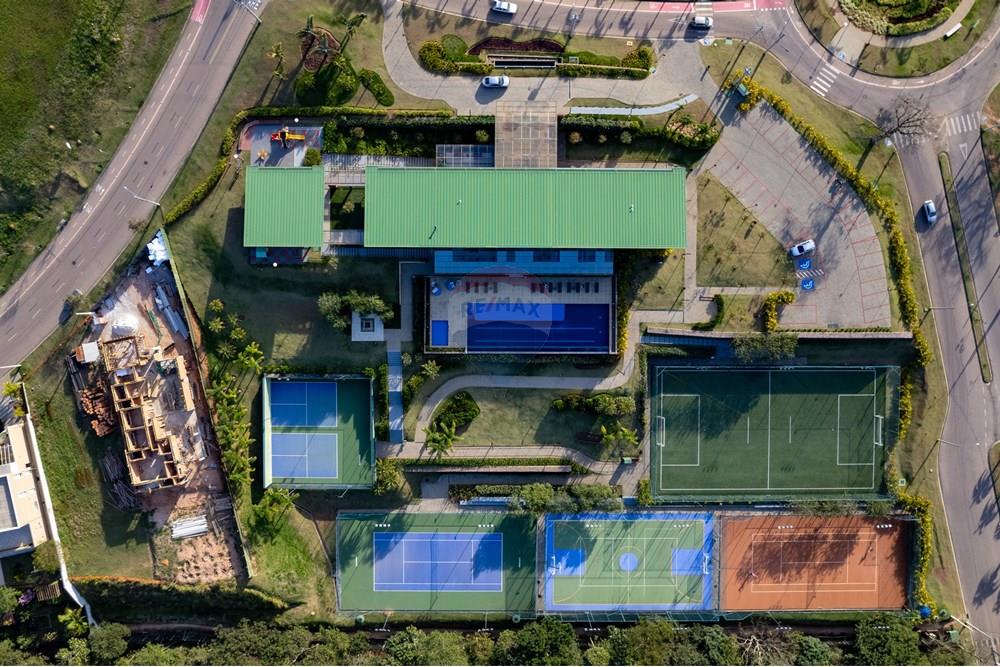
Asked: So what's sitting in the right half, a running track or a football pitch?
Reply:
football pitch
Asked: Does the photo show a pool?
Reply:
Yes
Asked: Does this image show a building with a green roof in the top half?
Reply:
Yes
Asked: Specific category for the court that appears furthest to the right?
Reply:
tennis court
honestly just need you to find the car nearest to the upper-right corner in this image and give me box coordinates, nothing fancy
[924,197,941,224]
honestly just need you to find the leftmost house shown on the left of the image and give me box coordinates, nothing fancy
[0,422,57,559]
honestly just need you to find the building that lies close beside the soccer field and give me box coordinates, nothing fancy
[364,166,688,275]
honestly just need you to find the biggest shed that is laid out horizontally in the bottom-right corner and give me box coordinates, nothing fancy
[909,617,954,641]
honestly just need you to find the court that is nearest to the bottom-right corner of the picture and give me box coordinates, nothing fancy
[722,516,912,609]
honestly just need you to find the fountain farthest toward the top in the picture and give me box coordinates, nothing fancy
[488,55,562,68]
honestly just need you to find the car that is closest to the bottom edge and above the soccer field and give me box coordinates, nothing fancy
[791,240,817,255]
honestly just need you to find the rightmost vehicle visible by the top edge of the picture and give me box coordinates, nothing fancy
[691,14,717,27]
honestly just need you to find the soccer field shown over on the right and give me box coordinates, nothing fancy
[648,366,886,494]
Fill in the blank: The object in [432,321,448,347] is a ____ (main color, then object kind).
blue swimming pool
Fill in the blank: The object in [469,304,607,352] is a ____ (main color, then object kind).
blue swimming pool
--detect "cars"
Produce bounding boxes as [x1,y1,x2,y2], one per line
[924,197,941,224]
[691,14,717,27]
[492,0,519,12]
[791,240,817,255]
[483,73,508,86]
